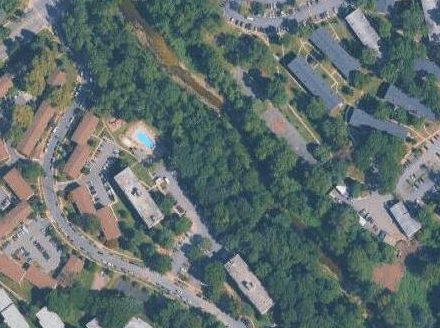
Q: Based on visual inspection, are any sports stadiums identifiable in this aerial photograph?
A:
No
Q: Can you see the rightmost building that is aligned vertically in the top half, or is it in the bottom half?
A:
top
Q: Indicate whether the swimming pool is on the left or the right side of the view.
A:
left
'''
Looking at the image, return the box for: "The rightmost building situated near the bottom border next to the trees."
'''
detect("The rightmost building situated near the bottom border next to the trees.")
[224,256,273,315]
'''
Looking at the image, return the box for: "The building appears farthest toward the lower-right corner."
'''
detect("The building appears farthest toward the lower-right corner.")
[389,201,421,236]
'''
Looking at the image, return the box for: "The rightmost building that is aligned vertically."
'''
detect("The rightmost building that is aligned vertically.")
[420,0,440,35]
